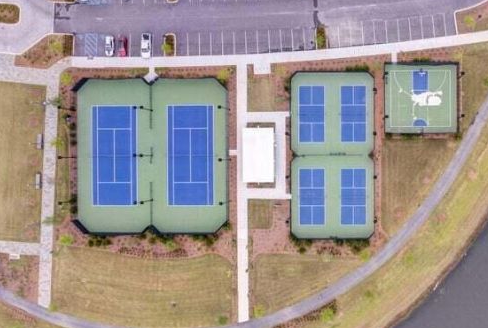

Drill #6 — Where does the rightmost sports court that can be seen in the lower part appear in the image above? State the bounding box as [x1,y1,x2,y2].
[332,155,374,240]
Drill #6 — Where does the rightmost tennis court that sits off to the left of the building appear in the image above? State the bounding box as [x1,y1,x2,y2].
[151,79,228,234]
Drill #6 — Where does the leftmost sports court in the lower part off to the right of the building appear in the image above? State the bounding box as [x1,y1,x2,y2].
[291,155,332,240]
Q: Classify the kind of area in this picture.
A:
sports ground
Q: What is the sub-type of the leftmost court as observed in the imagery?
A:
tennis court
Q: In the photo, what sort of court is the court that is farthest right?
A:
basketball court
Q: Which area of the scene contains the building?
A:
center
